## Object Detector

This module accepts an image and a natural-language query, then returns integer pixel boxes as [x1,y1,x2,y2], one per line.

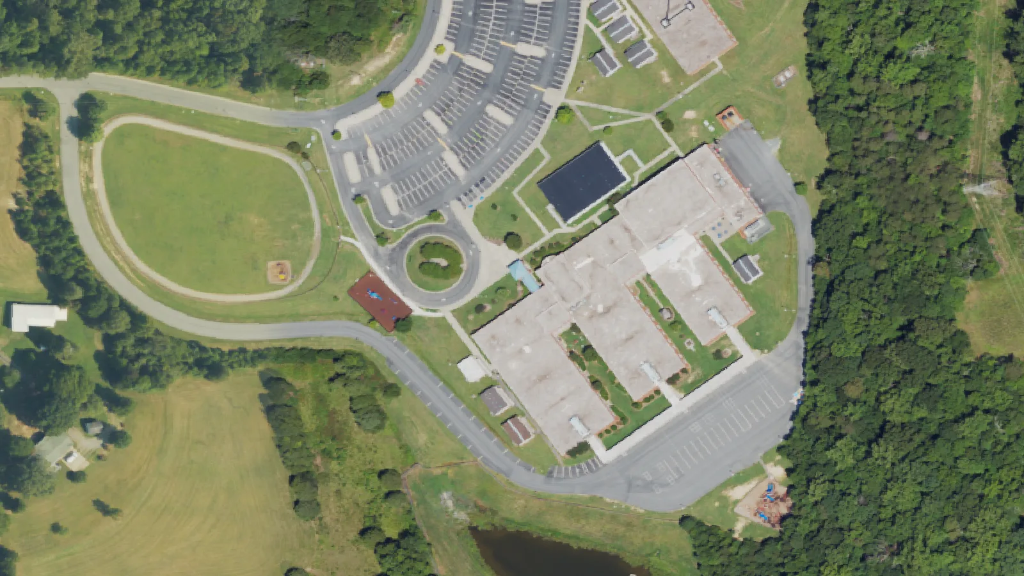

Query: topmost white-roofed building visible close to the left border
[13,304,69,332]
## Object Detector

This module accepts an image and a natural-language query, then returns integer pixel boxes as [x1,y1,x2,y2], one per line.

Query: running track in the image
[94,116,321,302]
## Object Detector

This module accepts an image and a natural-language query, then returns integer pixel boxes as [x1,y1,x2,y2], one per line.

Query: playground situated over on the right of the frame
[736,478,794,528]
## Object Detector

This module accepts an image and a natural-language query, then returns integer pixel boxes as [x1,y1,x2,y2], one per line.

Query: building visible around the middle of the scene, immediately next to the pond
[472,145,761,456]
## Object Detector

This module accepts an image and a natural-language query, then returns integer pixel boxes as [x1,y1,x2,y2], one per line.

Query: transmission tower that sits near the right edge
[967,176,1003,199]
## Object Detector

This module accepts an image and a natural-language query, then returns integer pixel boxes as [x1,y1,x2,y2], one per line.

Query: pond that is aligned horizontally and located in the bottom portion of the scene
[467,524,656,576]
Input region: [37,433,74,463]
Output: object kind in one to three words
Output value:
house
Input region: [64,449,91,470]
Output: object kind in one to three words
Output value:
building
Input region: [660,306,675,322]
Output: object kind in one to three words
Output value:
gazebo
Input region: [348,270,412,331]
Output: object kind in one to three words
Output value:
playground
